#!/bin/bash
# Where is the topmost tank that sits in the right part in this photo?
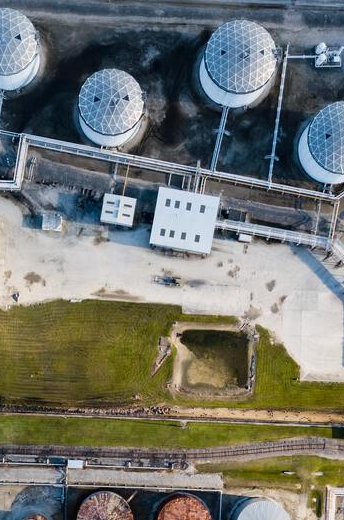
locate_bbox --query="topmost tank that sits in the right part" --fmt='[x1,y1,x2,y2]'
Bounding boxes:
[199,18,281,110]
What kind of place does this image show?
industrial area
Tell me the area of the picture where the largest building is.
center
